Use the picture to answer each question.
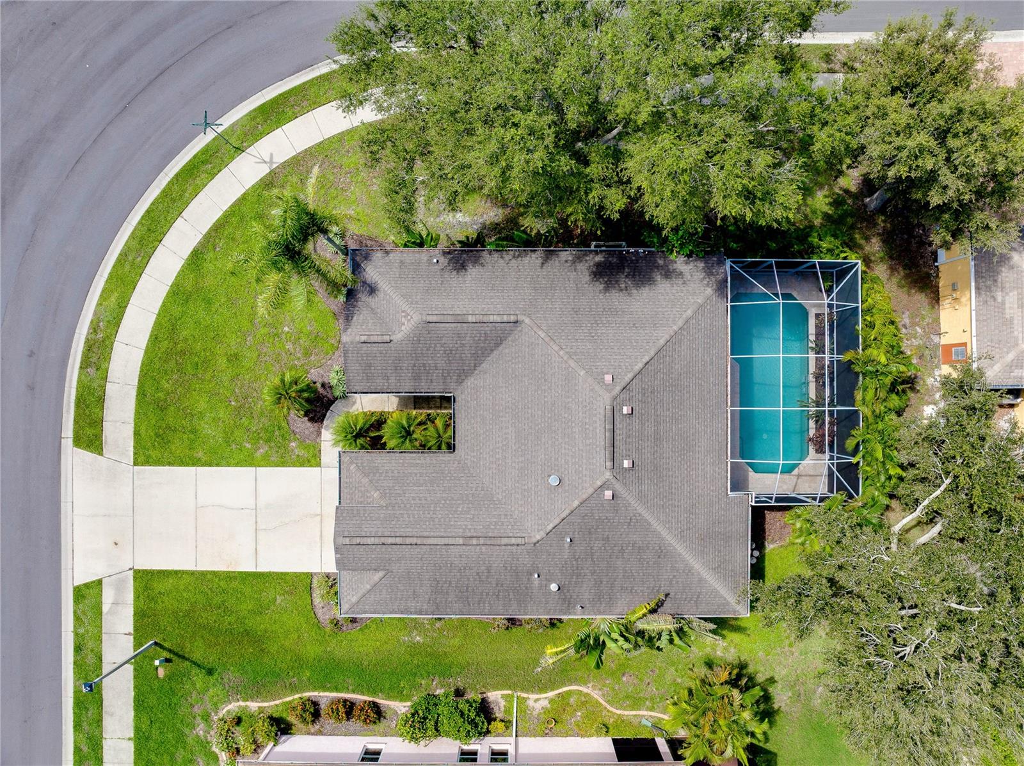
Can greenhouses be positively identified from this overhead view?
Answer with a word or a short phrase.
No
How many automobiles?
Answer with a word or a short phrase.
0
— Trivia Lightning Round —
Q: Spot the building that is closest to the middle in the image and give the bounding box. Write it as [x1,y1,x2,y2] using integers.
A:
[333,248,752,616]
